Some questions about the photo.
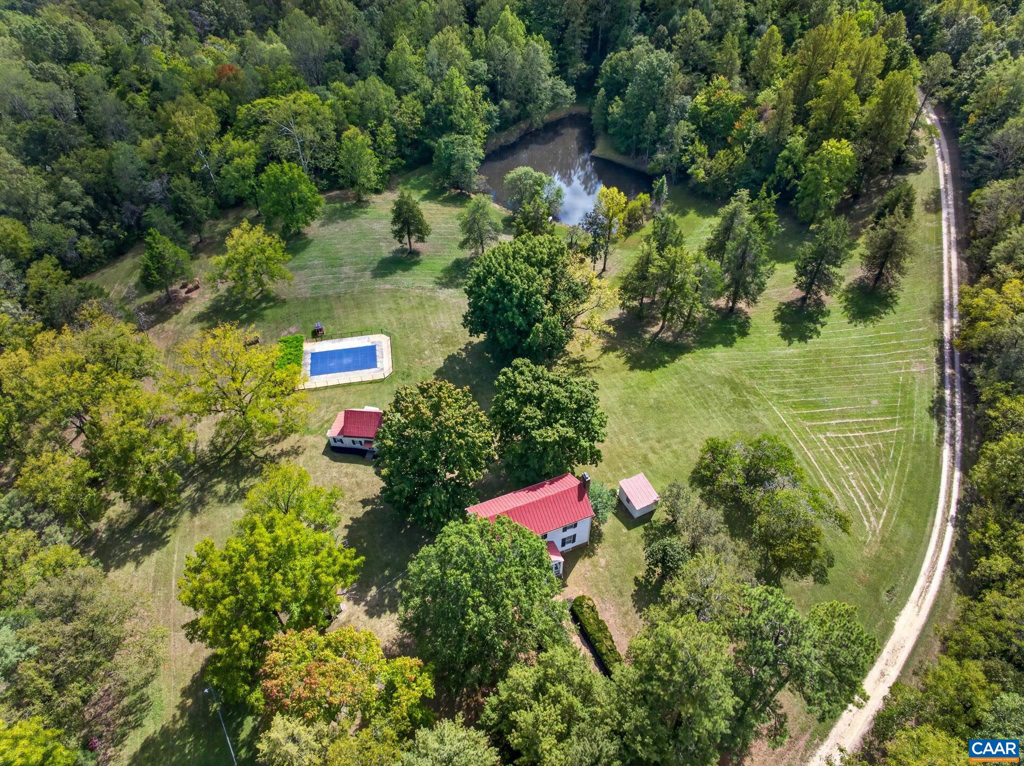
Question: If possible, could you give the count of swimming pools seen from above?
1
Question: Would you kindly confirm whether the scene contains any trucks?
No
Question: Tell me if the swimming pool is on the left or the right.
left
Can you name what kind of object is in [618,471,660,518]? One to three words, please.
shed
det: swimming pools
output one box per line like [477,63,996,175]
[296,334,393,390]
